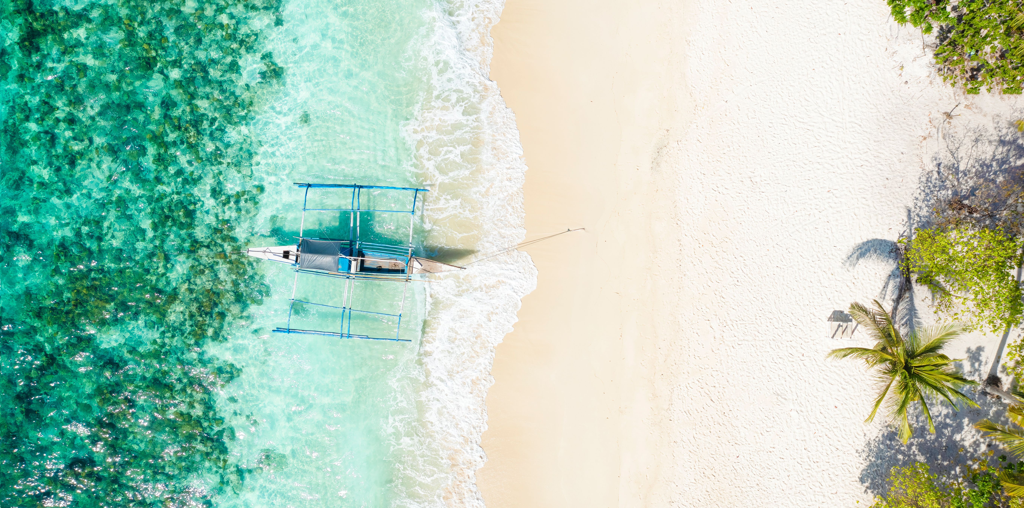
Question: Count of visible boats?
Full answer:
Only 1 boat is visible.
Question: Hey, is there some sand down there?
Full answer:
Yes, sand can be seen from above here.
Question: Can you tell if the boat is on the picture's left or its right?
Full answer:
You can find the boat on the left side of the picture.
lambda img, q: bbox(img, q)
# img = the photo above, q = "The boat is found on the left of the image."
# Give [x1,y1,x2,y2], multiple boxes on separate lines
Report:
[241,182,467,342]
